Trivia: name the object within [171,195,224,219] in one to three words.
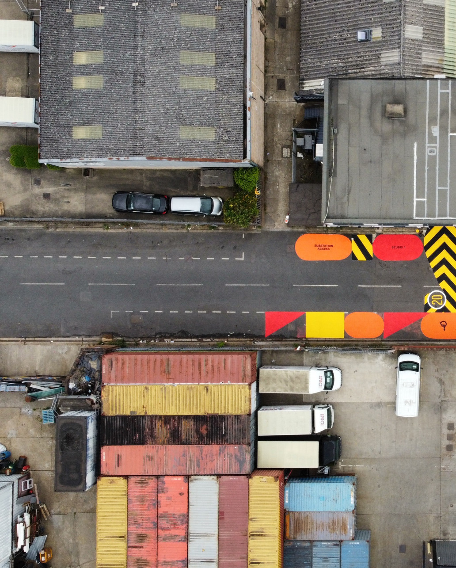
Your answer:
car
